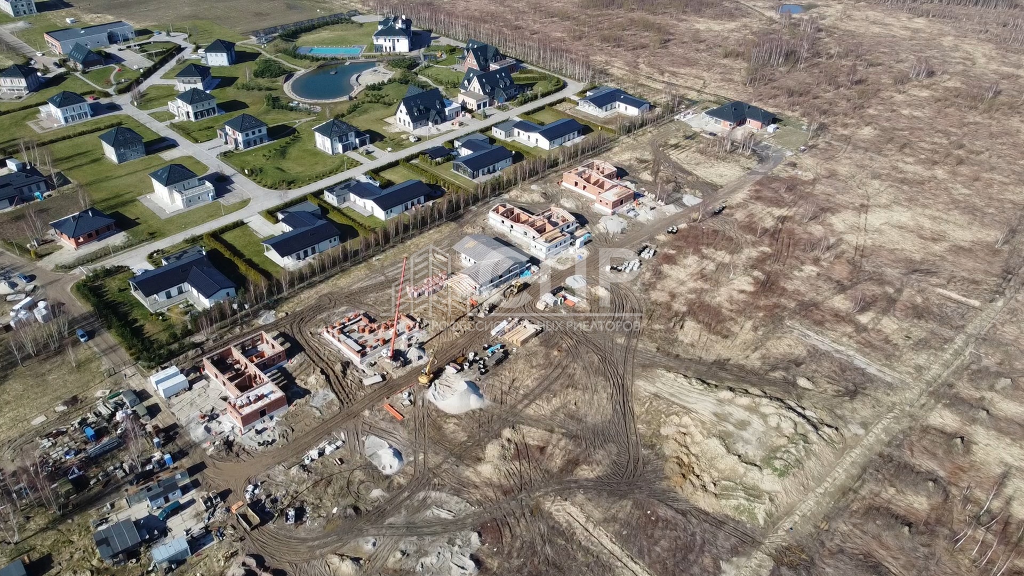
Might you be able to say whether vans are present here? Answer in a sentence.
Yes, a van appears in the view.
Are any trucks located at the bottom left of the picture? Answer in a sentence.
Yes, I can see a truck at the bottom left of the picture.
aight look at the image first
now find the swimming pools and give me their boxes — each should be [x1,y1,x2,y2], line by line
[296,44,363,57]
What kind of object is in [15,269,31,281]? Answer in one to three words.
vehicle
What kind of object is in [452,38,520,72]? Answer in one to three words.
house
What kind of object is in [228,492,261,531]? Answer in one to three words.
truck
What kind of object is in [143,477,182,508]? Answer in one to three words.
building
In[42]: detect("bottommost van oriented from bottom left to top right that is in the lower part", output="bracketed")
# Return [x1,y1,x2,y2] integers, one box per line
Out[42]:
[156,500,190,528]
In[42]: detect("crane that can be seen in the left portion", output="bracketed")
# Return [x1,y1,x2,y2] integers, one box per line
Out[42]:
[367,255,411,371]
